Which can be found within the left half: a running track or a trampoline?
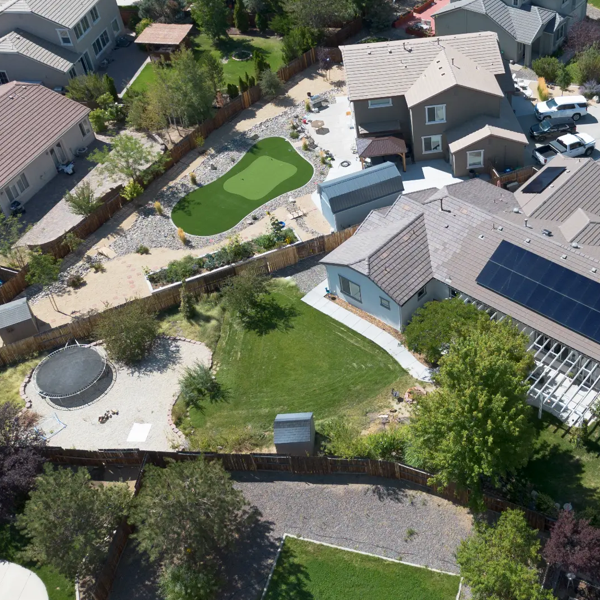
trampoline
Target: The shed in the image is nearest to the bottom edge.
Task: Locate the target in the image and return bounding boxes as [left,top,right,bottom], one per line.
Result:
[272,412,320,465]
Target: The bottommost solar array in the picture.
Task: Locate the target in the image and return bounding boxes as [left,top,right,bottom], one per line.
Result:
[476,240,600,343]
